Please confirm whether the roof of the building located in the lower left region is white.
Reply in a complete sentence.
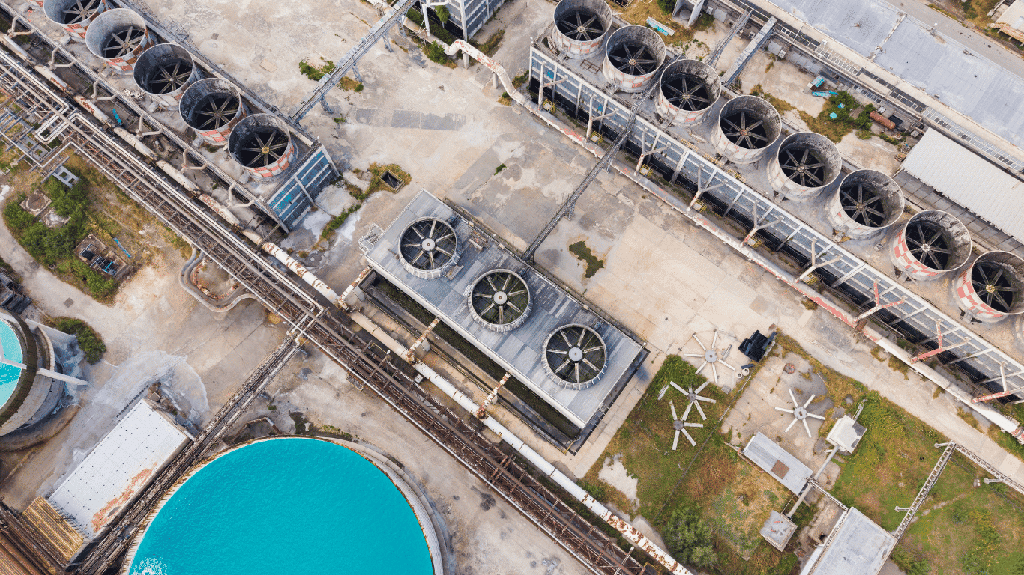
Yes, white is the color of the roof of the building located in the lower left region.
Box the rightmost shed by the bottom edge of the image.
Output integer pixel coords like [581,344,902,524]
[795,504,901,575]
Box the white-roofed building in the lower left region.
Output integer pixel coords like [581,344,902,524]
[49,400,188,542]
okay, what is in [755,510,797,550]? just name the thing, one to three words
shed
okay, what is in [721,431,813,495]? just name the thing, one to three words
shed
